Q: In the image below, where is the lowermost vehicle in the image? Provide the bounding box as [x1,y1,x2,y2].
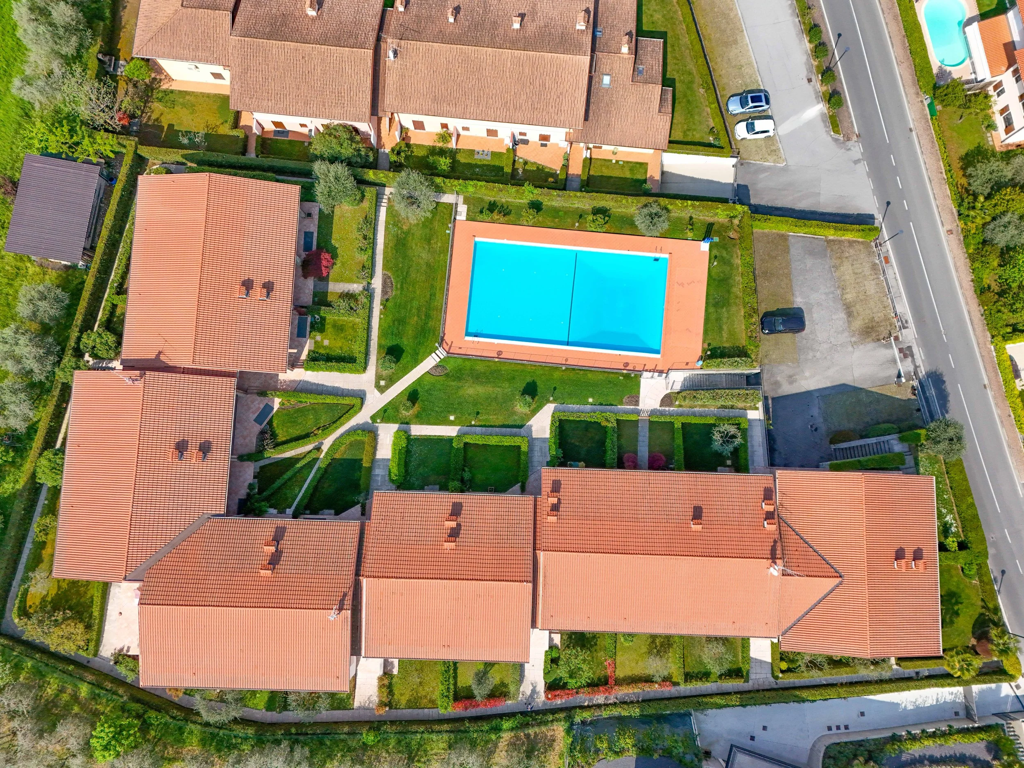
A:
[762,313,807,335]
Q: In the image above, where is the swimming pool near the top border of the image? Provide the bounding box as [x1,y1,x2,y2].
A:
[923,0,966,67]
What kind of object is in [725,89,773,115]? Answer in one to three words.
car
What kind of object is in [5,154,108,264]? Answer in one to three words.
shed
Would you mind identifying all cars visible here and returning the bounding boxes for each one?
[733,119,777,142]
[762,313,807,335]
[725,89,773,115]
